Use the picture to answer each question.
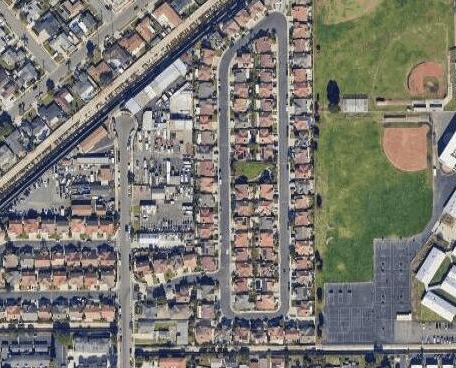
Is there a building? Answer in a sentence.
Yes, I can see a building in this picture.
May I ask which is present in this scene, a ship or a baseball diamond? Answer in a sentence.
The image shows a baseball diamond.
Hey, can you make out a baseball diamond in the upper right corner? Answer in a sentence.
Yes, looking in the upper right corner, one can make out a baseball diamond.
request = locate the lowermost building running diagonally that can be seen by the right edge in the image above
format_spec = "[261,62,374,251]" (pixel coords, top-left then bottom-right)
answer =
[420,287,456,323]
